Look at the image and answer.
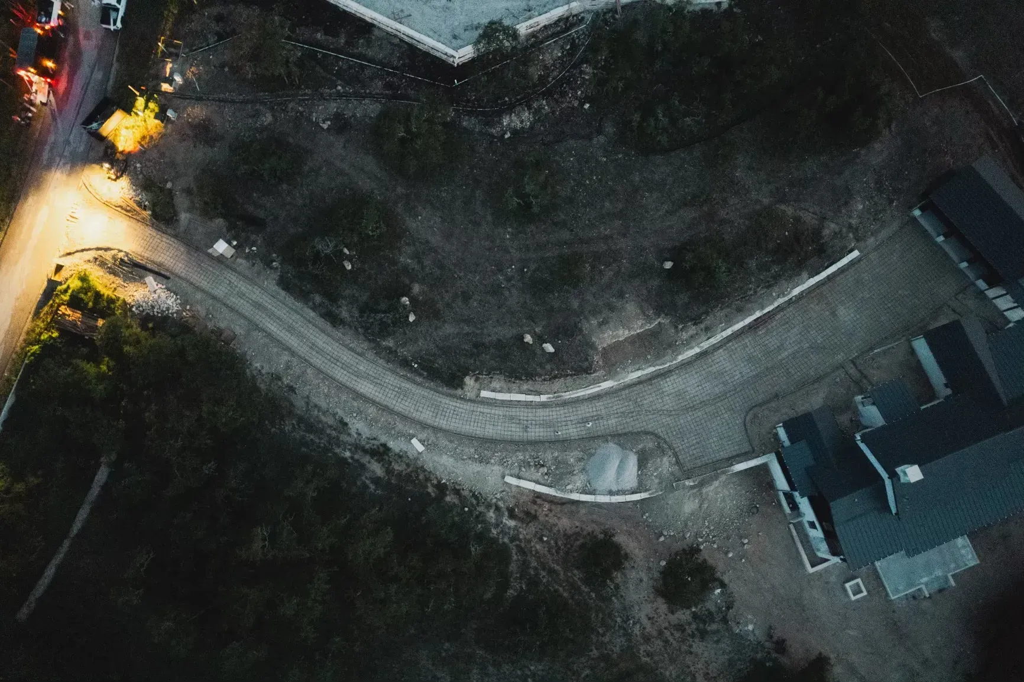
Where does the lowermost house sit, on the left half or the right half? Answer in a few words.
right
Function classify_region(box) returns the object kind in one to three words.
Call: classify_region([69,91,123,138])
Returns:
trailer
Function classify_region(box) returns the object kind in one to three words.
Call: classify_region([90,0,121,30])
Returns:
truck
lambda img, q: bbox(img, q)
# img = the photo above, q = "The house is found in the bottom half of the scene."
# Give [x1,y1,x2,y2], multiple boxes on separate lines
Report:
[769,314,1024,571]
